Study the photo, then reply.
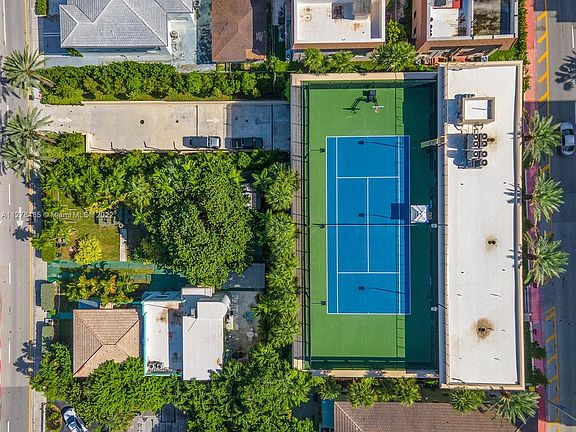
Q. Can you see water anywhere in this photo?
No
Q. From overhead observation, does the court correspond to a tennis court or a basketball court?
tennis court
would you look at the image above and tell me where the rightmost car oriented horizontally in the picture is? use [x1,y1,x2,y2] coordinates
[226,136,263,151]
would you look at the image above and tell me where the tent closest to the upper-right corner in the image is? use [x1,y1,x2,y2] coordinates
[406,204,428,223]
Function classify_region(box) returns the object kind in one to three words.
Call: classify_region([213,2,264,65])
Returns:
house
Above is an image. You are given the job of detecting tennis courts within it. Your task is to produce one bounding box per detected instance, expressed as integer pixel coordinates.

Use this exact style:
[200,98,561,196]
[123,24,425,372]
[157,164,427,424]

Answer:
[302,80,436,370]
